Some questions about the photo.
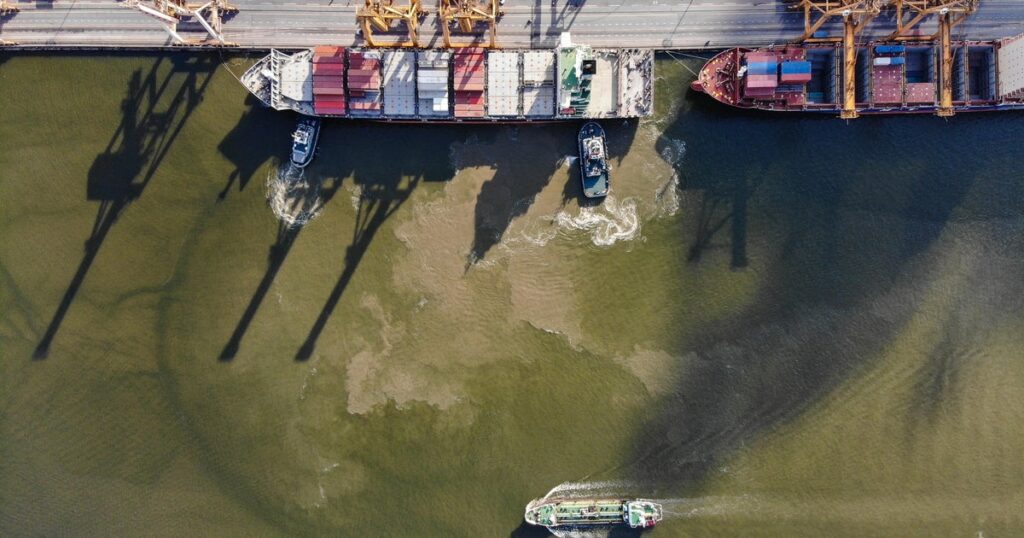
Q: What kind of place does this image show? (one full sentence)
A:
This looks like a port.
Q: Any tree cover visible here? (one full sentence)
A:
No, there's no tree cover in this view.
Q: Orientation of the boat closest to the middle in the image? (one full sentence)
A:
The boat closest to the middle is laid out up and down.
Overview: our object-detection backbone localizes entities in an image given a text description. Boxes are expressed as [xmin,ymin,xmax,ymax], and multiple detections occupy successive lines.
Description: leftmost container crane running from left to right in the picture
[129,0,239,46]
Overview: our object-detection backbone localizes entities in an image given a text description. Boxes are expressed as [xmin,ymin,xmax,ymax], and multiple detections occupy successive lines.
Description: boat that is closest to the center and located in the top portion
[577,122,612,199]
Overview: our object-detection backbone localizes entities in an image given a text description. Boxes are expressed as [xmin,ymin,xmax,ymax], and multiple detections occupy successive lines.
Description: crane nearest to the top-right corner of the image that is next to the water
[871,0,980,127]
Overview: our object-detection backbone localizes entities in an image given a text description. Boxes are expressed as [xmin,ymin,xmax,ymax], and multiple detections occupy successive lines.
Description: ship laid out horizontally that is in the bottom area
[527,498,662,532]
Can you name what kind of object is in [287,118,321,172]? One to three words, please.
boat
